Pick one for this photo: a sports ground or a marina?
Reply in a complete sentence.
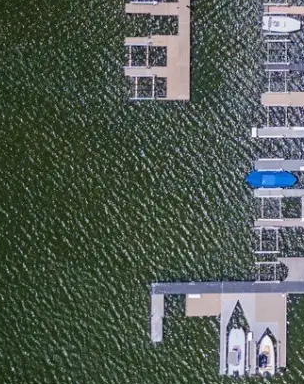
It's a marina.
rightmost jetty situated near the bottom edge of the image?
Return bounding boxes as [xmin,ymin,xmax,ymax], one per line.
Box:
[255,293,287,368]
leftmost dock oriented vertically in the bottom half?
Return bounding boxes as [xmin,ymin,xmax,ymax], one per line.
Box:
[150,293,165,342]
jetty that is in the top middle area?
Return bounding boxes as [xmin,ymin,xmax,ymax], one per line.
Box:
[124,0,191,100]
